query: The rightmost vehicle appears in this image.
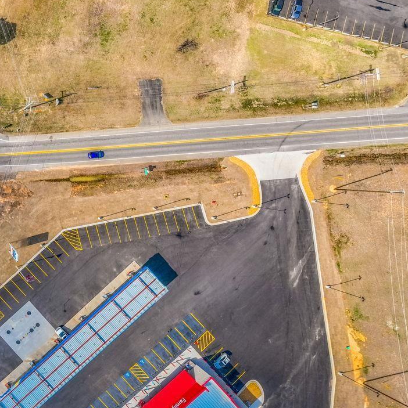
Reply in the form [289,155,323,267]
[289,0,302,19]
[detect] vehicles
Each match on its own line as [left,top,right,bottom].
[213,351,232,368]
[88,151,105,158]
[55,325,66,338]
[289,0,302,19]
[271,0,282,14]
